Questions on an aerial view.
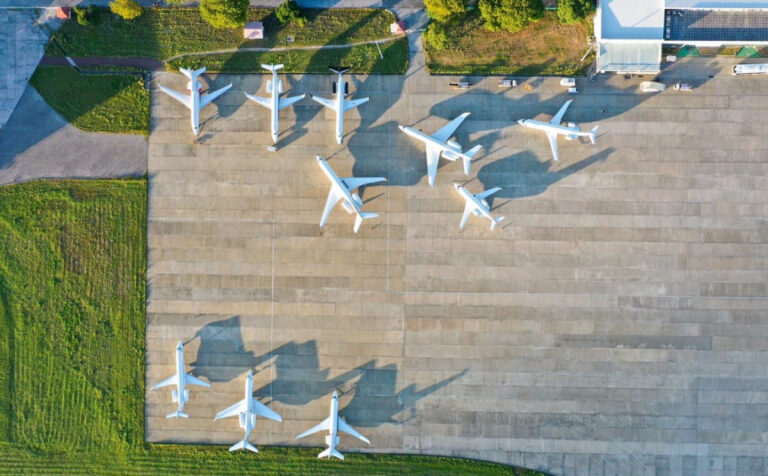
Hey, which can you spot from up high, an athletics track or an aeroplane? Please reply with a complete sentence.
The image shows an aeroplane.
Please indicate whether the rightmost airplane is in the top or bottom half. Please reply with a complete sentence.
It is in the top half that the rightmost airplane appears.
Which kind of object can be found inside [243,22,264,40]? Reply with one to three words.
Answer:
shed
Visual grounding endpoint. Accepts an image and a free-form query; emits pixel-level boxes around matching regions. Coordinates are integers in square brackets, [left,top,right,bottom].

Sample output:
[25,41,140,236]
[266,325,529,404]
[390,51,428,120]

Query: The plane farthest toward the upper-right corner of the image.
[518,99,598,161]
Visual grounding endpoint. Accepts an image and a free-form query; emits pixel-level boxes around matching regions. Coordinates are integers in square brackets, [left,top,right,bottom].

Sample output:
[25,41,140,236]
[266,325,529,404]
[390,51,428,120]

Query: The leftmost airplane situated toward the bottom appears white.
[151,341,210,418]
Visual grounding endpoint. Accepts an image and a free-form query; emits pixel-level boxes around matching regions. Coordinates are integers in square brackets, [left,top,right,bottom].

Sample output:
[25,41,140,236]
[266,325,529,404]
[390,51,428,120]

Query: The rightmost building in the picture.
[662,0,768,46]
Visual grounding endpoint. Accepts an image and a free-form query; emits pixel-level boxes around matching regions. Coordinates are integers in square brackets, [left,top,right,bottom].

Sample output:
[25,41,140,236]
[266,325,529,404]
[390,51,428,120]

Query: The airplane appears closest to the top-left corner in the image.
[157,67,230,134]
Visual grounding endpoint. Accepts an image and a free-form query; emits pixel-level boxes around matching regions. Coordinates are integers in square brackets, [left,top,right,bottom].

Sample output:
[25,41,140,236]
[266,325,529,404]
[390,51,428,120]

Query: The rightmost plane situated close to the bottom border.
[296,391,370,457]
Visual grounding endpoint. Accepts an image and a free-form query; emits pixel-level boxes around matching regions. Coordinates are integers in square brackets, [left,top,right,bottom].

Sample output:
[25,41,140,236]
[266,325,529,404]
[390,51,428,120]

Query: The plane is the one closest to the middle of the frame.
[317,156,386,233]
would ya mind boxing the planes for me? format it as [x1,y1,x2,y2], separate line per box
[213,370,280,454]
[157,67,230,134]
[310,67,369,143]
[151,341,210,418]
[518,99,598,161]
[317,156,386,233]
[399,110,483,187]
[454,184,506,231]
[244,65,304,143]
[296,391,370,457]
